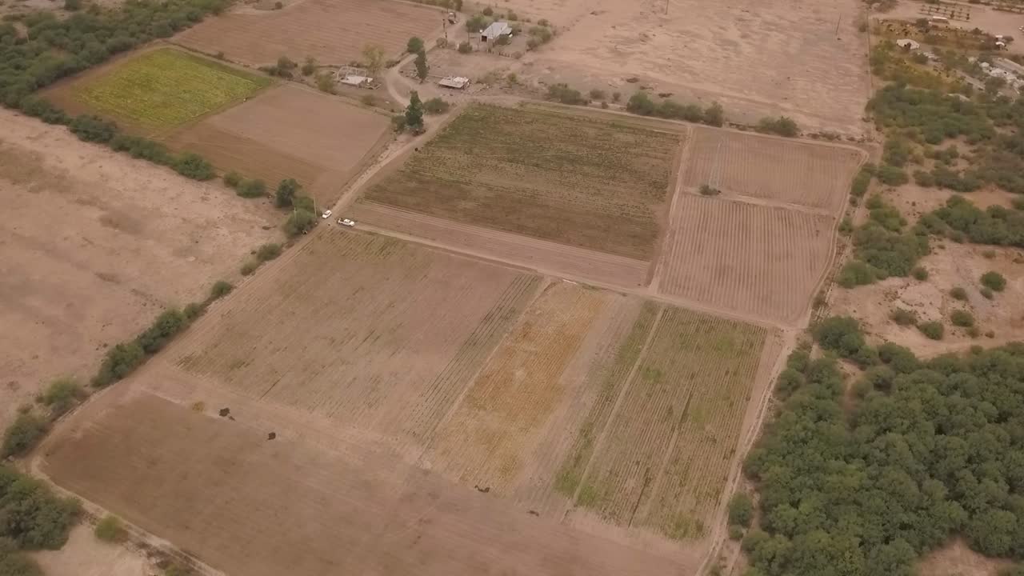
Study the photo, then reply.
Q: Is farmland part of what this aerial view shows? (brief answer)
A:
Yes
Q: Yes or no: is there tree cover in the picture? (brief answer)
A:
Yes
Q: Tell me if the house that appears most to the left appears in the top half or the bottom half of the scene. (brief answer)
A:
top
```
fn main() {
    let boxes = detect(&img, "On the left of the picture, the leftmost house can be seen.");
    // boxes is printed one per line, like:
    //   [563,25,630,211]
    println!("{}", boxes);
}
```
[337,66,378,87]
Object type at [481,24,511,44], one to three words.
shed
